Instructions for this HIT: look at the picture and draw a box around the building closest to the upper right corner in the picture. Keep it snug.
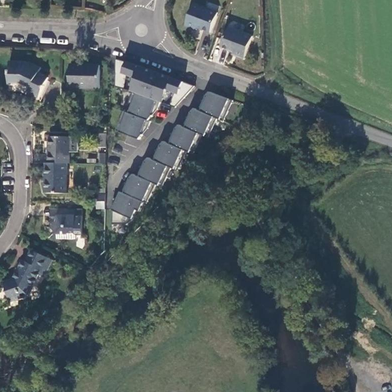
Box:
[221,28,255,60]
